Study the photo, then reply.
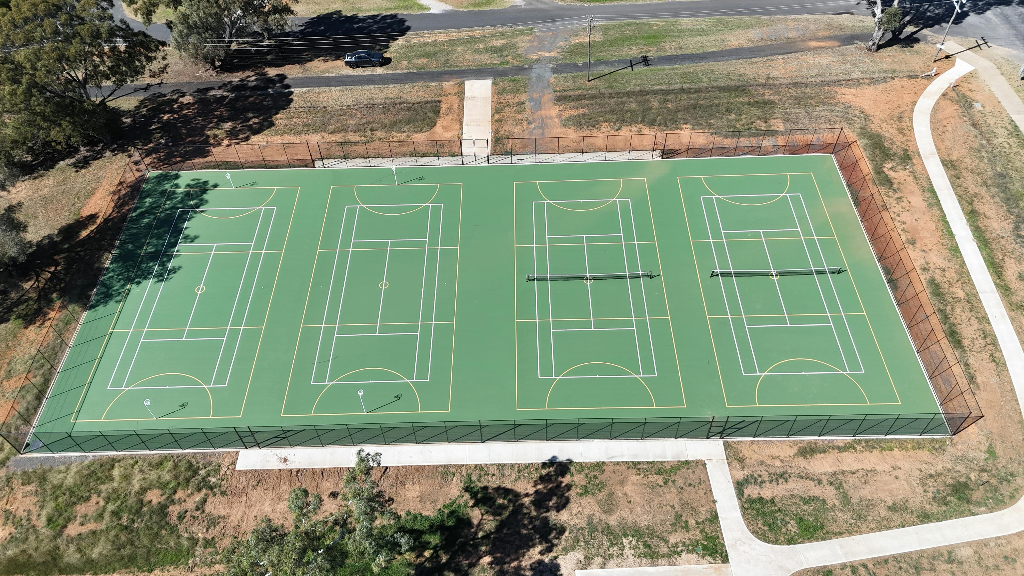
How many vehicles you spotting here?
one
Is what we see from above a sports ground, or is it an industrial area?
sports ground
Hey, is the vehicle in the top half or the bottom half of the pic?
top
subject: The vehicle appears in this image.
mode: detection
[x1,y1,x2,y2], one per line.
[344,49,385,69]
